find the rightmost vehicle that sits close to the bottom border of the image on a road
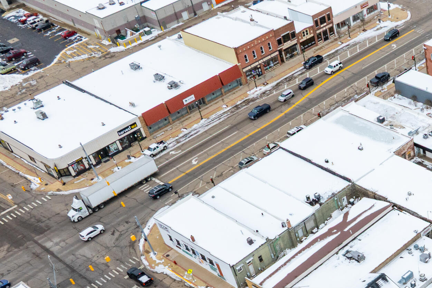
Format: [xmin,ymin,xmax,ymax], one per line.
[124,267,155,285]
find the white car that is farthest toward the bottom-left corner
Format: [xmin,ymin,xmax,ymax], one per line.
[79,225,106,241]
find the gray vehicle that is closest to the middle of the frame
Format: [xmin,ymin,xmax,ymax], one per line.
[237,156,260,168]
